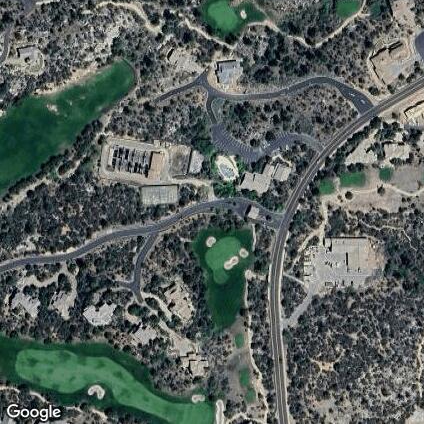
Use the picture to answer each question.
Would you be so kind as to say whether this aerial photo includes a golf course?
Yes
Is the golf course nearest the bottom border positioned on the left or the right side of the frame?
left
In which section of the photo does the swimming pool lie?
center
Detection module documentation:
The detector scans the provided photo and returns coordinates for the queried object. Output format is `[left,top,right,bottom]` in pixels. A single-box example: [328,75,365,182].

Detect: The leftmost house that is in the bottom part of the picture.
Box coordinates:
[8,290,41,319]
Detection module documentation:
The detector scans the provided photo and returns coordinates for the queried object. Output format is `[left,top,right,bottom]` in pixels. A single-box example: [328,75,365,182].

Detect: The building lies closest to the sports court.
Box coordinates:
[148,150,163,179]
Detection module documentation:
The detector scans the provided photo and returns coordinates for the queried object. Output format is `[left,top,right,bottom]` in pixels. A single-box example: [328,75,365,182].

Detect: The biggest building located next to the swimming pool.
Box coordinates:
[240,162,292,192]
